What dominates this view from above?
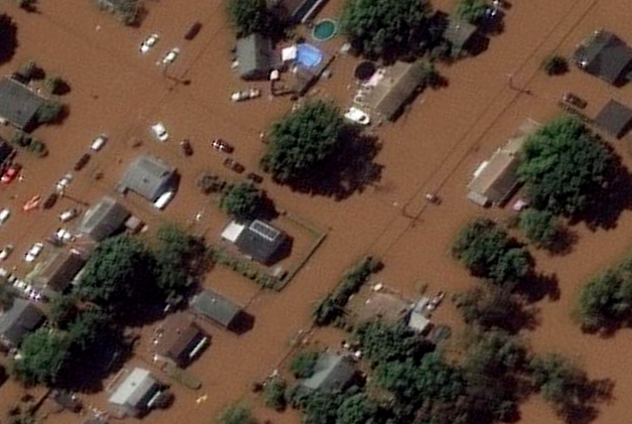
water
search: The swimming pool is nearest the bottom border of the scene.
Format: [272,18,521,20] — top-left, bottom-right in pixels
[296,44,322,68]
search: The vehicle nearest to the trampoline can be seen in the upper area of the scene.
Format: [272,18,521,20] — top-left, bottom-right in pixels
[346,107,367,122]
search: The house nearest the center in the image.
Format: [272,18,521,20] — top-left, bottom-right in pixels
[221,221,286,266]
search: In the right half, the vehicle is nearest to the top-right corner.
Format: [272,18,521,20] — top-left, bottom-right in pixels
[564,94,583,108]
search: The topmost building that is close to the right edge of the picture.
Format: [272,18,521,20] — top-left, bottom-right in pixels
[577,30,632,90]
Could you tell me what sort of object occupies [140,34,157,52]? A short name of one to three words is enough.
vehicle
